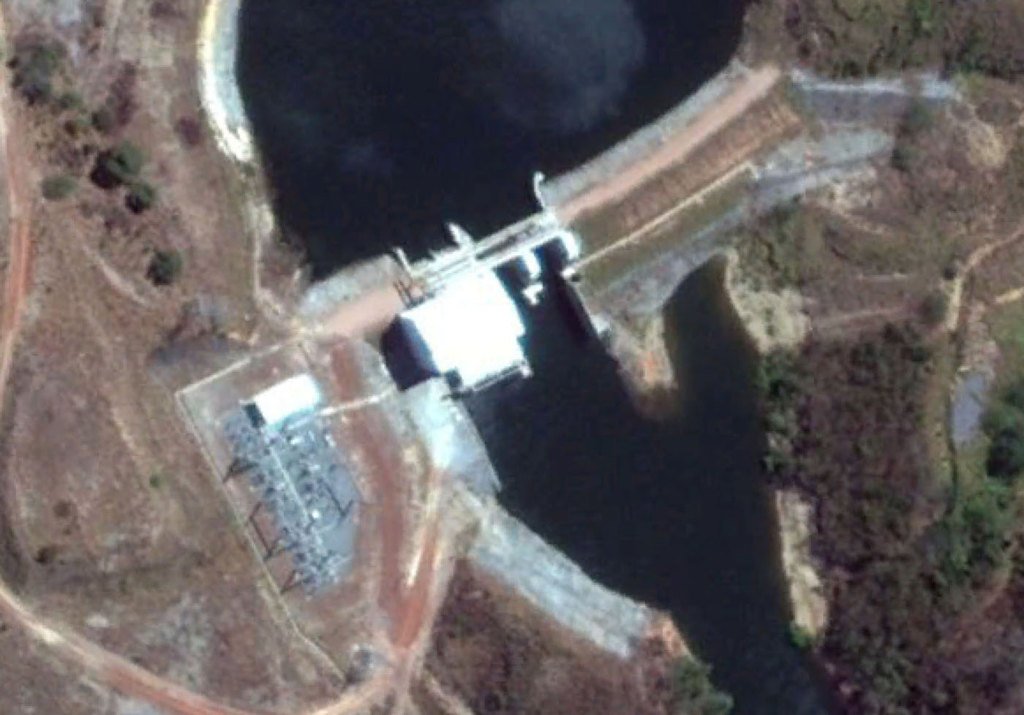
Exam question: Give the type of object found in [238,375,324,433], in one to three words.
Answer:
building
